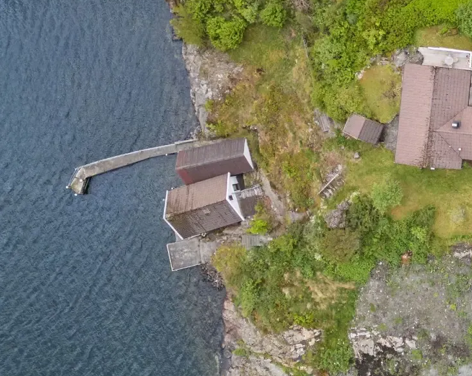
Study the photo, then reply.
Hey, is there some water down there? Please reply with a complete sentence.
Yes, there's water in this view.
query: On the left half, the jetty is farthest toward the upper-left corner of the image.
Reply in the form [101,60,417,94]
[69,140,202,196]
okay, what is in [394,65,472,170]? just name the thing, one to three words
house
